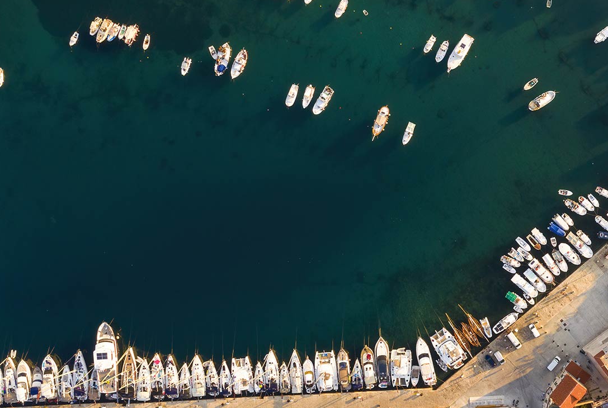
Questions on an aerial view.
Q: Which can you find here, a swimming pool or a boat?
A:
boat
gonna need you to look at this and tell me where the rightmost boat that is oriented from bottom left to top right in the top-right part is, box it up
[593,27,608,45]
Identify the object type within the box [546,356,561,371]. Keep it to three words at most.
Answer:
vehicle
